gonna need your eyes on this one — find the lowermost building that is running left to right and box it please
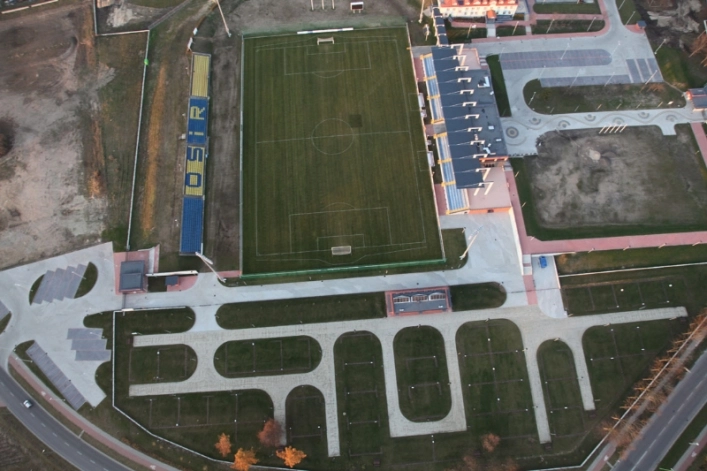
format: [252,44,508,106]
[389,287,452,317]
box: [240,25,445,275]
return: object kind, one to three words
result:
soccer field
